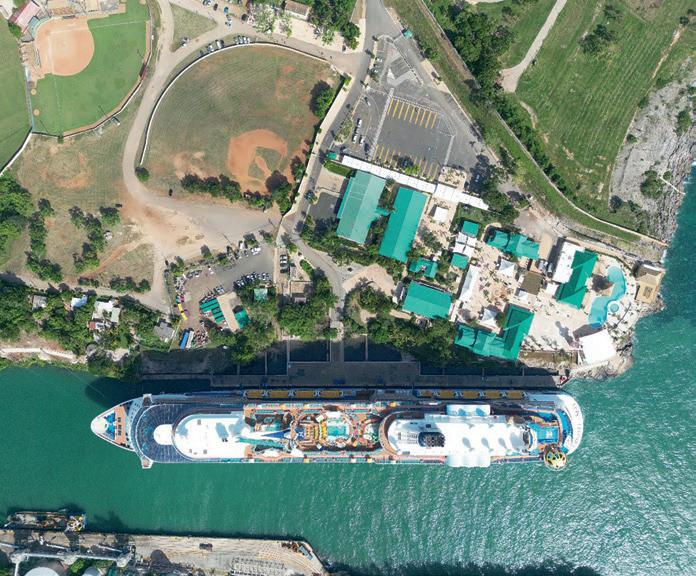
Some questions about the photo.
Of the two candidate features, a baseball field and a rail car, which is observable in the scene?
baseball field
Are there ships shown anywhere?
Yes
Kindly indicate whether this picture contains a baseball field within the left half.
Yes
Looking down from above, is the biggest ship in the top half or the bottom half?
bottom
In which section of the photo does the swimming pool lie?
right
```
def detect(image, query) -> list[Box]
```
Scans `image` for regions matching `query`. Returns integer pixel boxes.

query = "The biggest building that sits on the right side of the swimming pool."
[633,263,666,303]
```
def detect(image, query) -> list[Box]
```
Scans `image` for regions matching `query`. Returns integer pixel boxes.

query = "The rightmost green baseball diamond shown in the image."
[30,0,150,135]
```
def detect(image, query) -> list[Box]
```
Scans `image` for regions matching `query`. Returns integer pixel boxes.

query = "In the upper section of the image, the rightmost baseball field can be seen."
[140,44,343,206]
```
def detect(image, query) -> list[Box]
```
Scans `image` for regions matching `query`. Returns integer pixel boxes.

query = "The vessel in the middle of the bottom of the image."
[91,390,582,471]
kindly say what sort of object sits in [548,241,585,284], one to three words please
building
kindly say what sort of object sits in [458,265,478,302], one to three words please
tent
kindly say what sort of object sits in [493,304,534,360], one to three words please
building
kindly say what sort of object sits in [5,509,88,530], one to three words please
ship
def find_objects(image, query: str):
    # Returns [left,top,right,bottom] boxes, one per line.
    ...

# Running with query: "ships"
[5,509,88,530]
[91,390,582,471]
